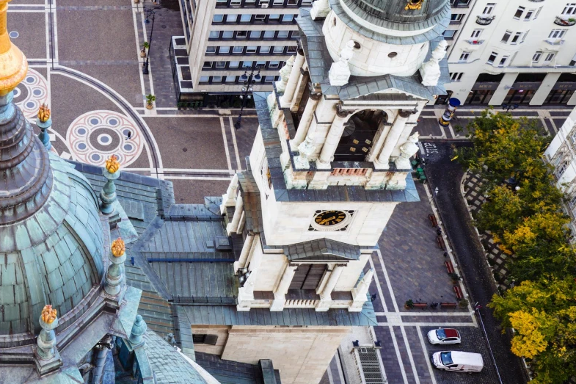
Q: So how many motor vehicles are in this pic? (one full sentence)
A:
In total, there are 2 motor vehicles in the scene.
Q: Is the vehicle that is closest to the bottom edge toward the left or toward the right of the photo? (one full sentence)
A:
The vehicle that is closest to the bottom edge appears in the right half of the scene.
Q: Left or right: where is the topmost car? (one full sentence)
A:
The topmost car appears in the right half of the scene.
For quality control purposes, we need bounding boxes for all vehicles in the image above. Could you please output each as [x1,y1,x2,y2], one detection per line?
[433,346,489,373]
[427,324,467,345]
